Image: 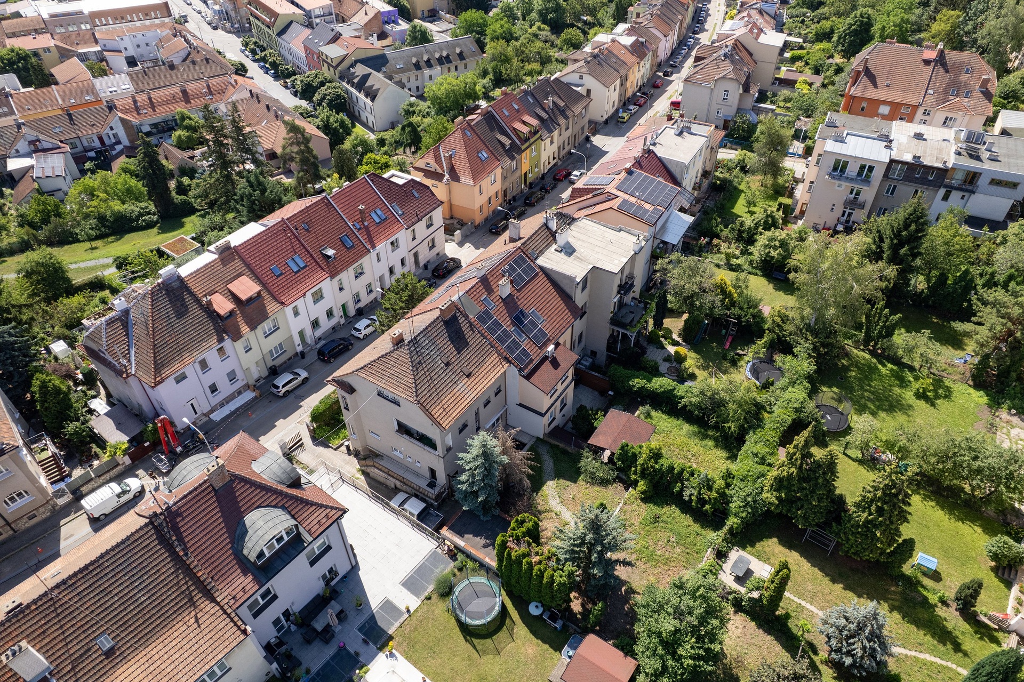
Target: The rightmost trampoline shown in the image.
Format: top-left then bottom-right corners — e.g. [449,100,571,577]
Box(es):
[816,390,861,436]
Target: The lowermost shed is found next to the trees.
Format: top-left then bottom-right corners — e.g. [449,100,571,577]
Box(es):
[561,634,634,682]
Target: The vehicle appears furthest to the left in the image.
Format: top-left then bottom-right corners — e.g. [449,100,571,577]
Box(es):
[81,481,143,522]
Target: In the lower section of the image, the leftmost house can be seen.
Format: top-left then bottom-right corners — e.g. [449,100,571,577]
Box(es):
[0,426,50,524]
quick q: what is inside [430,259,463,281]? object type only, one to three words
car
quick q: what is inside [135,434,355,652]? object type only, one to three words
house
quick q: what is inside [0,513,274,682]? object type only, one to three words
house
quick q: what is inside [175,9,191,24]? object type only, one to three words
vehicle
